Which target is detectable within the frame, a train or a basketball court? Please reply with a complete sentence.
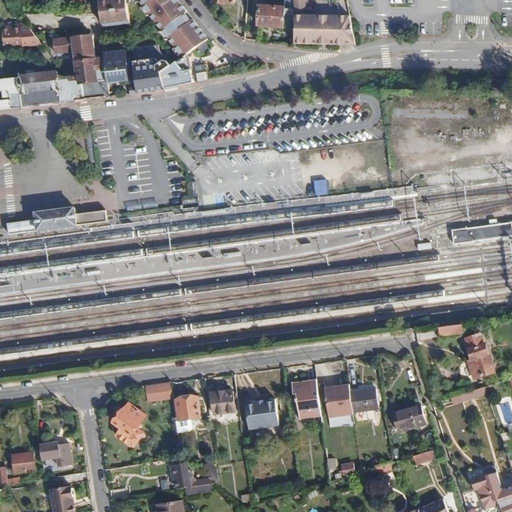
Visible in the photo is a train.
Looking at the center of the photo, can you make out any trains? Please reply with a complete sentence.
Yes, the scene does show a train at the center of the photo.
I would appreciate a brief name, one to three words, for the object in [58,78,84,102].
building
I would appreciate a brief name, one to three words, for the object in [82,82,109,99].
building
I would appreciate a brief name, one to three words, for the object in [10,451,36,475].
house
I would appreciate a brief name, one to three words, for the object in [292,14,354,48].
house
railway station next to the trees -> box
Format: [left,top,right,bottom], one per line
[0,184,483,363]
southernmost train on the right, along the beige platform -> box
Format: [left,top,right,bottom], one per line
[191,290,446,329]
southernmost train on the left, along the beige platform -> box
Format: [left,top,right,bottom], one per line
[0,323,188,356]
